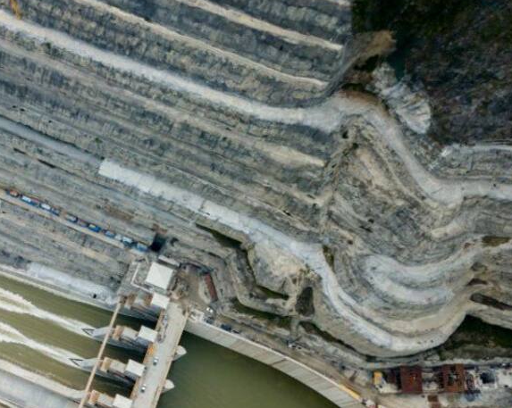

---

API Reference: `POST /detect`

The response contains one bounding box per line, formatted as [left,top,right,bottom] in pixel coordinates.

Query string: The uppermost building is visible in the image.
[146,263,174,295]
